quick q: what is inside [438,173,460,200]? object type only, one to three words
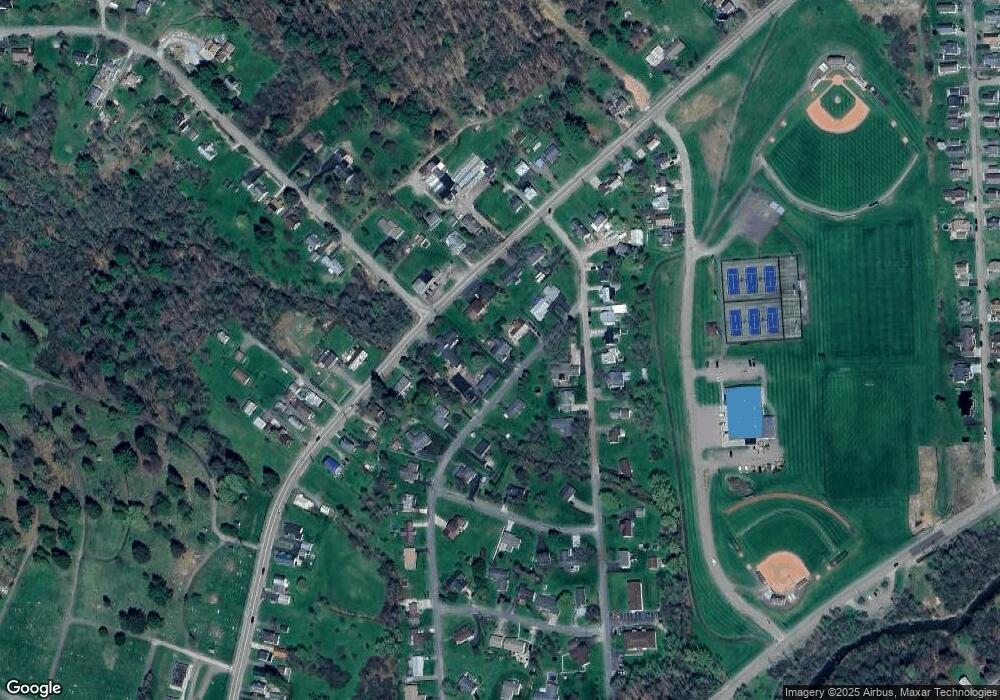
barn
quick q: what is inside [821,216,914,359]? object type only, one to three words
sports field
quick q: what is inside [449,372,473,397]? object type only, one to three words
house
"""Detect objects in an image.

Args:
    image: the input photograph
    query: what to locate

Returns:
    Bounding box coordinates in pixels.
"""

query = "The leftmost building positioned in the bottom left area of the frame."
[171,659,191,688]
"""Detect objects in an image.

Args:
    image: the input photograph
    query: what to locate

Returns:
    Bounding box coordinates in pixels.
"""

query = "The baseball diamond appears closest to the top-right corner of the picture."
[759,65,920,219]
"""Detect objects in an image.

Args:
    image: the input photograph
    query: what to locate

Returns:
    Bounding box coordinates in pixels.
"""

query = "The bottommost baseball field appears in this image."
[722,492,852,592]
